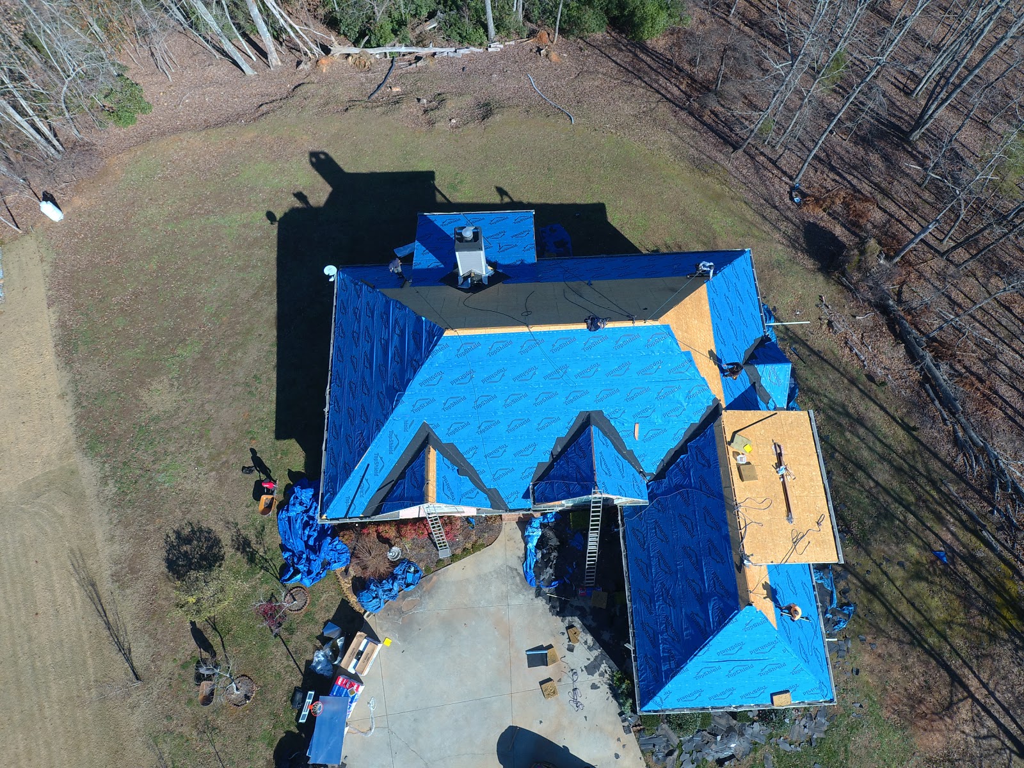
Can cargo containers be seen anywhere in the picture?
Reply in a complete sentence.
No, there isn't any cargo container down there.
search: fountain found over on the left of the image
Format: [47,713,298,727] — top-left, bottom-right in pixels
[384,545,400,561]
